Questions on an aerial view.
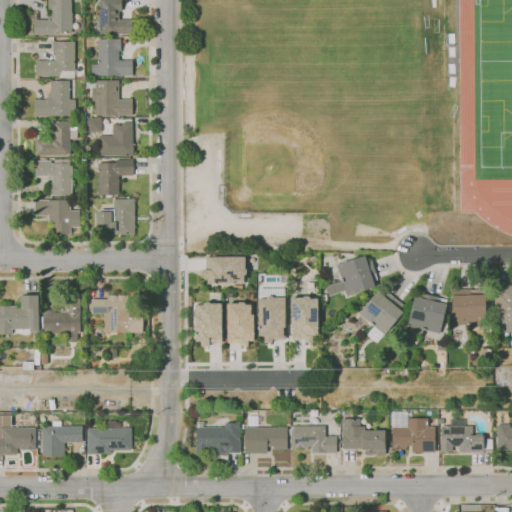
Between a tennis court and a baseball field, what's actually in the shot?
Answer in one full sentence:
It is a baseball field that can be seen here.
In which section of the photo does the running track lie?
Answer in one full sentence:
The running track appears toward the top right of the photo.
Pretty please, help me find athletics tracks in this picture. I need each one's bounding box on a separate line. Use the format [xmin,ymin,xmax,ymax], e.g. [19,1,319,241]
[461,0,512,234]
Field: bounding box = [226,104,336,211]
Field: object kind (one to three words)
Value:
baseball field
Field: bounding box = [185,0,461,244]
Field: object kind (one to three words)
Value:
sports field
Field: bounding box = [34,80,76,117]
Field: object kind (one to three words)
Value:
house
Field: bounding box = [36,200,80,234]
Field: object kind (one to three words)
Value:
house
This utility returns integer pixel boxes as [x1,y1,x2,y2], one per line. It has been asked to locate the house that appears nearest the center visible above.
[202,257,246,286]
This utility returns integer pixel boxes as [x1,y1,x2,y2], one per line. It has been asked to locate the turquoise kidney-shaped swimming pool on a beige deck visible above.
[468,415,488,434]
